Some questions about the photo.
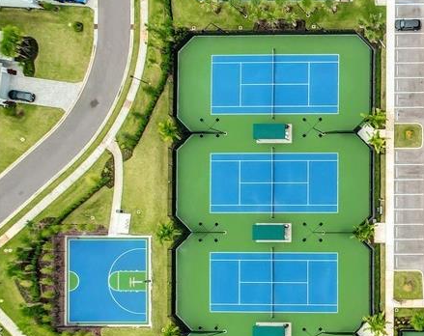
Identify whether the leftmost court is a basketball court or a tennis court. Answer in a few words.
basketball court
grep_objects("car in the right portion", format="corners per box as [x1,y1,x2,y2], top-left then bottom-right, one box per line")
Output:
[395,17,421,31]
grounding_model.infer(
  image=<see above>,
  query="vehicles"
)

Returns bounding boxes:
[51,0,88,5]
[395,17,421,31]
[8,90,38,102]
